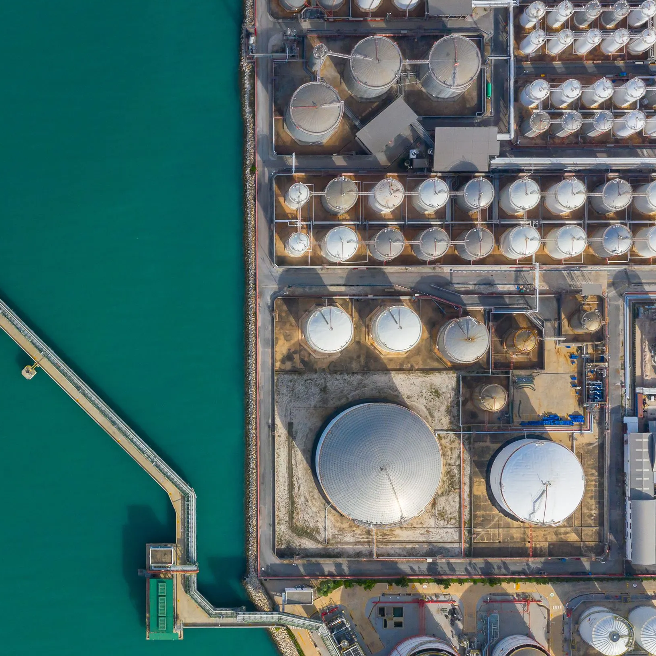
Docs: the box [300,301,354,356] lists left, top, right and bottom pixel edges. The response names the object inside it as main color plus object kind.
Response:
white storage tank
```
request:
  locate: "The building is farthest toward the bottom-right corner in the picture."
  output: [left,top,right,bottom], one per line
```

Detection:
[625,498,656,565]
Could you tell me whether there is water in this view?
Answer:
Yes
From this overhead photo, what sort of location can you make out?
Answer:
industrial area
